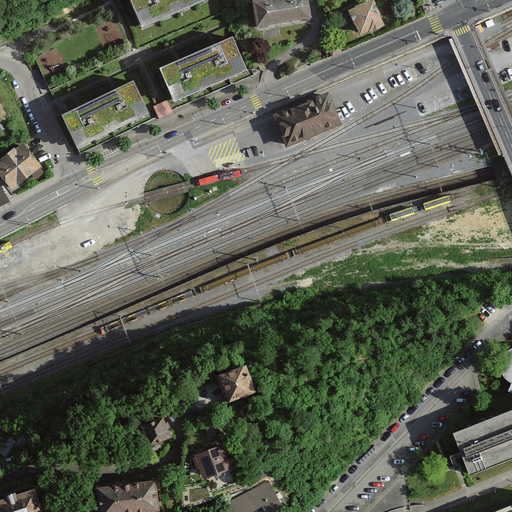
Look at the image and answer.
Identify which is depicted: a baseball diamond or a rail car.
rail car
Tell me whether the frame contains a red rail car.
Yes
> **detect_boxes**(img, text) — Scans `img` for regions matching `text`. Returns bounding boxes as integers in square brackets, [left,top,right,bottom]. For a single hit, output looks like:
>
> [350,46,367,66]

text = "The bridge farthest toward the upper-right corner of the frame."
[448,26,512,178]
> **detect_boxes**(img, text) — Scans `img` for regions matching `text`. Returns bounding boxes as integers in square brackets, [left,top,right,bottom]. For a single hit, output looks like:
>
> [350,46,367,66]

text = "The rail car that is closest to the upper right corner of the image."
[422,194,454,210]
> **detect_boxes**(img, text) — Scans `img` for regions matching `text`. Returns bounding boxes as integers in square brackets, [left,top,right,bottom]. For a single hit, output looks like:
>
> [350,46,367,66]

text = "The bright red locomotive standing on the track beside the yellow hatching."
[197,168,243,186]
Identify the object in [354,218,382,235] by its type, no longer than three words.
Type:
rail car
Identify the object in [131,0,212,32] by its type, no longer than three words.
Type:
building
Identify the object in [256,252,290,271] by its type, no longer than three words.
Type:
rail car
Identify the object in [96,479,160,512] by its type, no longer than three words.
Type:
house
